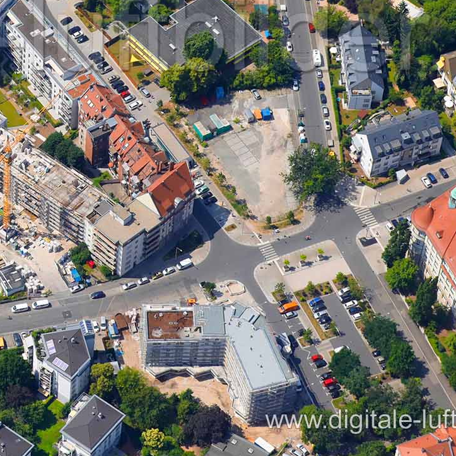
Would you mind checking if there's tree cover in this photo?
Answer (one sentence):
Yes, some tree cover is visible.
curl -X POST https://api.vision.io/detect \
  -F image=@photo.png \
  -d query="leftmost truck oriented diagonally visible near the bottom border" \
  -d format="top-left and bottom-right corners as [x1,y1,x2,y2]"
[250,429,281,456]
